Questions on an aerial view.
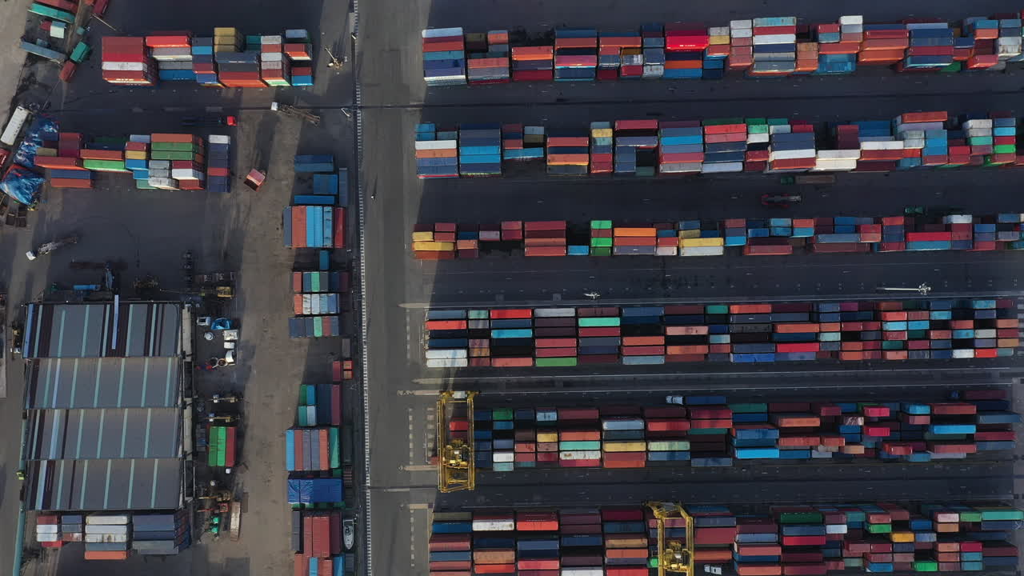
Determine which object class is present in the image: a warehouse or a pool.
warehouse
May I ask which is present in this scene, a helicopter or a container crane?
container crane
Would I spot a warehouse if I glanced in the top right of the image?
No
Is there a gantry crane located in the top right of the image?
No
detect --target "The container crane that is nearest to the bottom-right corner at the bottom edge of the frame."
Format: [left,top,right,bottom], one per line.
[641,495,695,576]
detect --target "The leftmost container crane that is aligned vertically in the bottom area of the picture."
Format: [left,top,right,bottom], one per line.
[436,387,485,487]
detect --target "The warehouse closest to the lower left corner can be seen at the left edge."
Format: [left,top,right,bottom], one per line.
[22,297,197,511]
